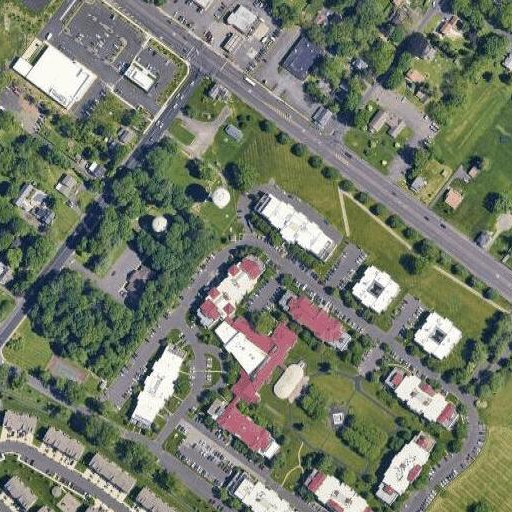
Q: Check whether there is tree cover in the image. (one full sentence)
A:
Yes, some tree cover is visible.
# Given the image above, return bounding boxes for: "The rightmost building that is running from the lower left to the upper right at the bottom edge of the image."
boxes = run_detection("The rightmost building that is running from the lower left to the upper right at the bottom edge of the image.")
[376,432,436,508]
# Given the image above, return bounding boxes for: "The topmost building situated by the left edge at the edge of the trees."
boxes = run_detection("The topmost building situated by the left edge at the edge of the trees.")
[13,40,97,112]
